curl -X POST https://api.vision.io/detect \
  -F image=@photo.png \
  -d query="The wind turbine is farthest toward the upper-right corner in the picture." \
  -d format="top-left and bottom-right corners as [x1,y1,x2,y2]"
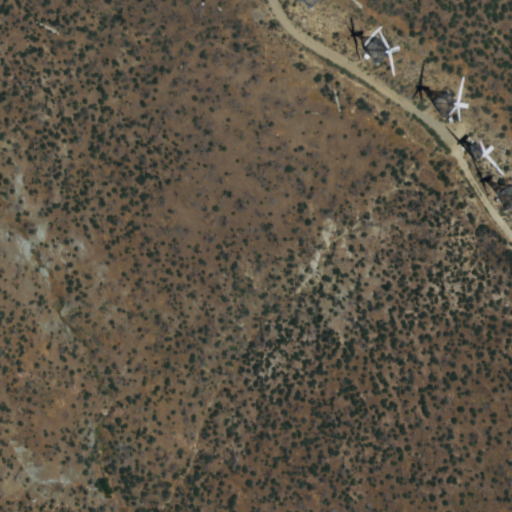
[432,76,469,120]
